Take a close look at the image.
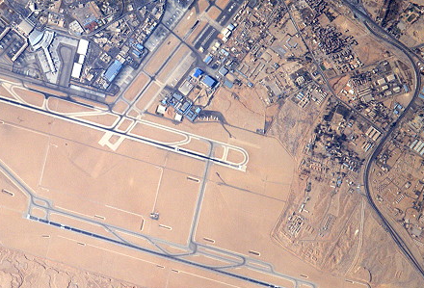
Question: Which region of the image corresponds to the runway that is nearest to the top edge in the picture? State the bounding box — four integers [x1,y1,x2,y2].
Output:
[0,95,247,170]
